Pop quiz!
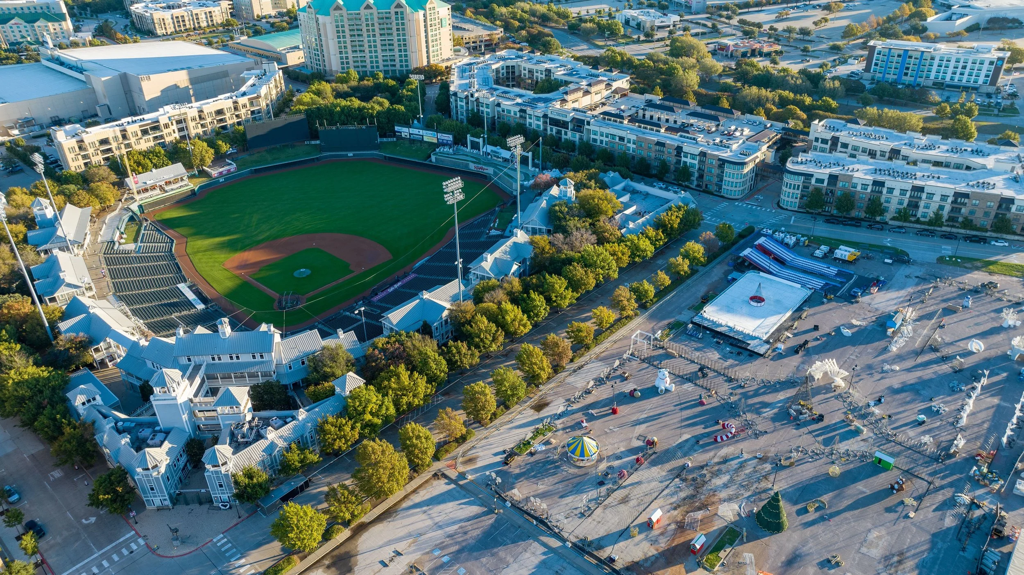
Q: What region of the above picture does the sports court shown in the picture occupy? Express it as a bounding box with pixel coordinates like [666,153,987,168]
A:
[690,268,815,352]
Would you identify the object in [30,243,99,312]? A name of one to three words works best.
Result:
building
